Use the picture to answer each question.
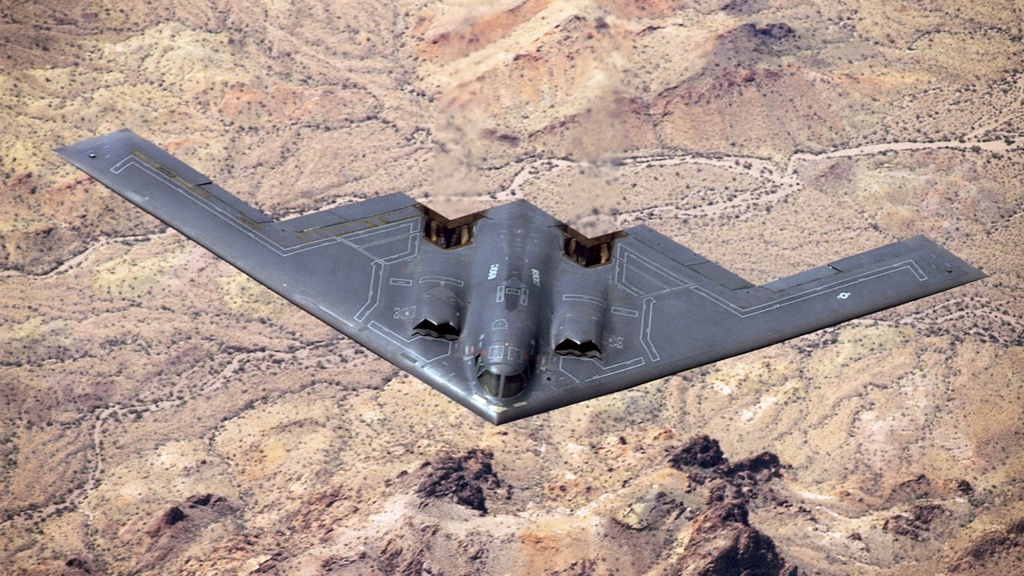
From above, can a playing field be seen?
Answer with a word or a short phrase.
No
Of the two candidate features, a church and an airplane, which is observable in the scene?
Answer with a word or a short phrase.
airplane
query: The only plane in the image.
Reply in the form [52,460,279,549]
[53,130,987,425]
